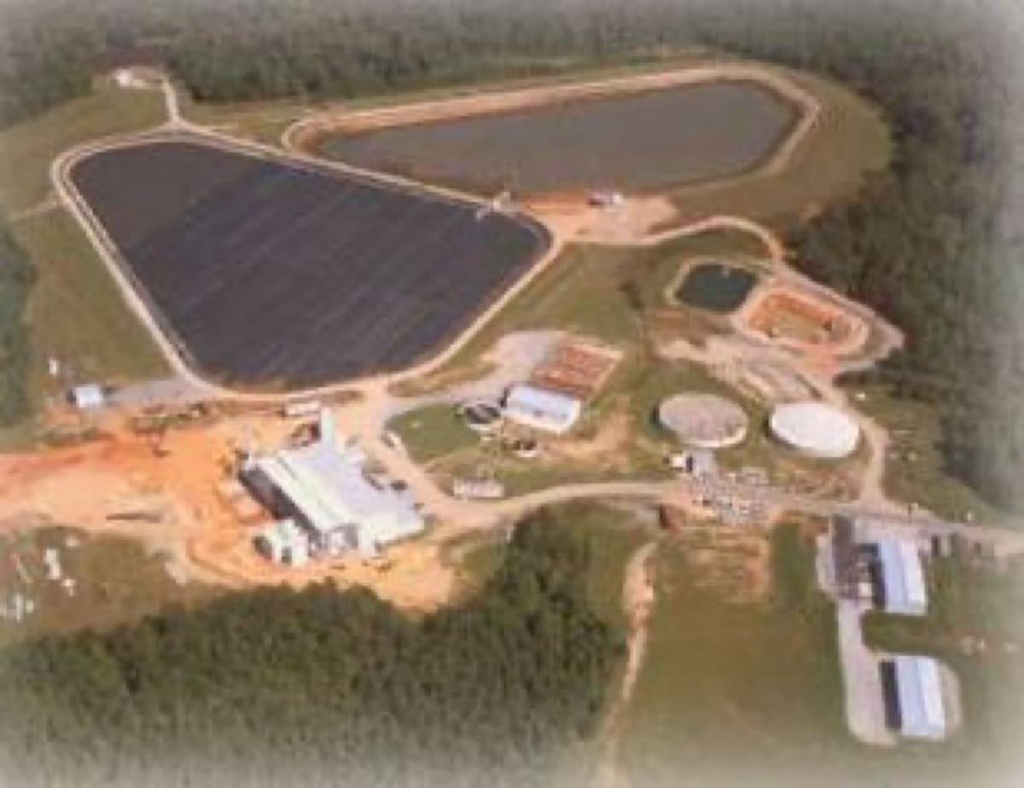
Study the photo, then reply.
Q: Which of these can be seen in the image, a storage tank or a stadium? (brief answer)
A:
storage tank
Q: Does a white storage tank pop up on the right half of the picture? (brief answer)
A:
Yes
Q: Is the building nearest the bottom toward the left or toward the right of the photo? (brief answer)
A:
right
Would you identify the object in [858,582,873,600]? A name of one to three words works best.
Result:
vehicle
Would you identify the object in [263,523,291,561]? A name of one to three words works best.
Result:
shed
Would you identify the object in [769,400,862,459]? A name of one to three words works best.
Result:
storage tank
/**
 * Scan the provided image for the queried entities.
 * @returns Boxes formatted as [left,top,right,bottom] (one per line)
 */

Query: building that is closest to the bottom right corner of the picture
[895,653,945,744]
